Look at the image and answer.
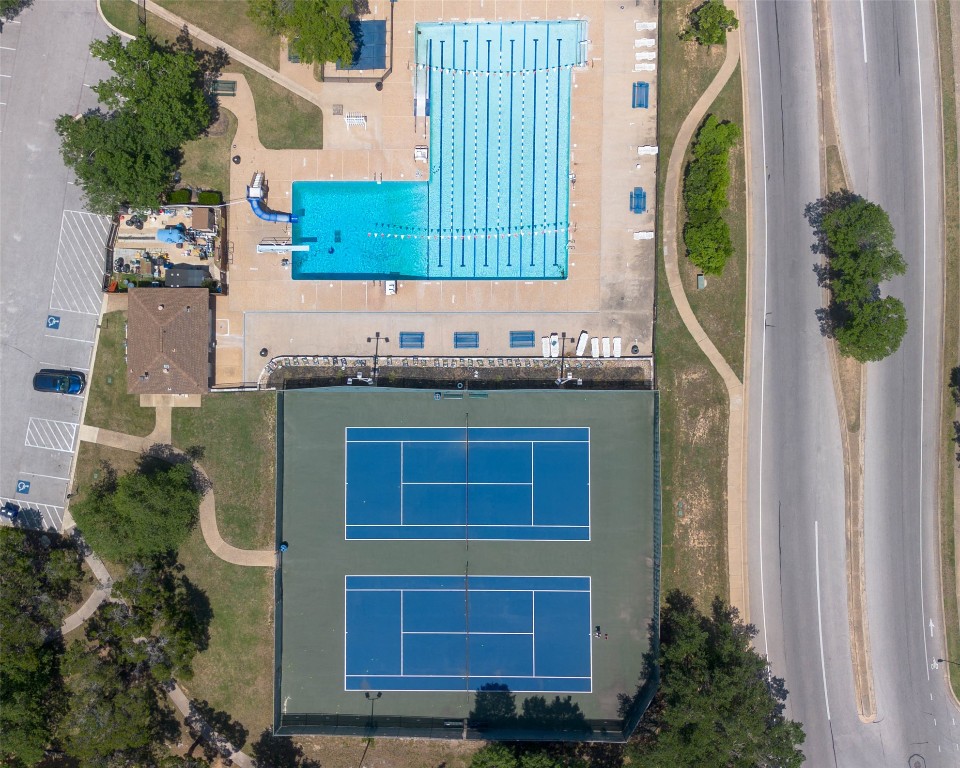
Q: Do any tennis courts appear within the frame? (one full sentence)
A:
Yes, a tennis court appears in the view.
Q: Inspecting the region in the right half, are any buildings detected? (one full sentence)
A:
No, there is no building in the right half.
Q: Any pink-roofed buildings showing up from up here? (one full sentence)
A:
No, this view has no pink-roofed building in it.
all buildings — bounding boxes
[191,206,221,233]
[124,287,218,394]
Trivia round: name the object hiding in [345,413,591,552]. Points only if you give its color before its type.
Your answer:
blue tennis court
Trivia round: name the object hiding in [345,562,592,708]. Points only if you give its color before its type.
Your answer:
blue tennis court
